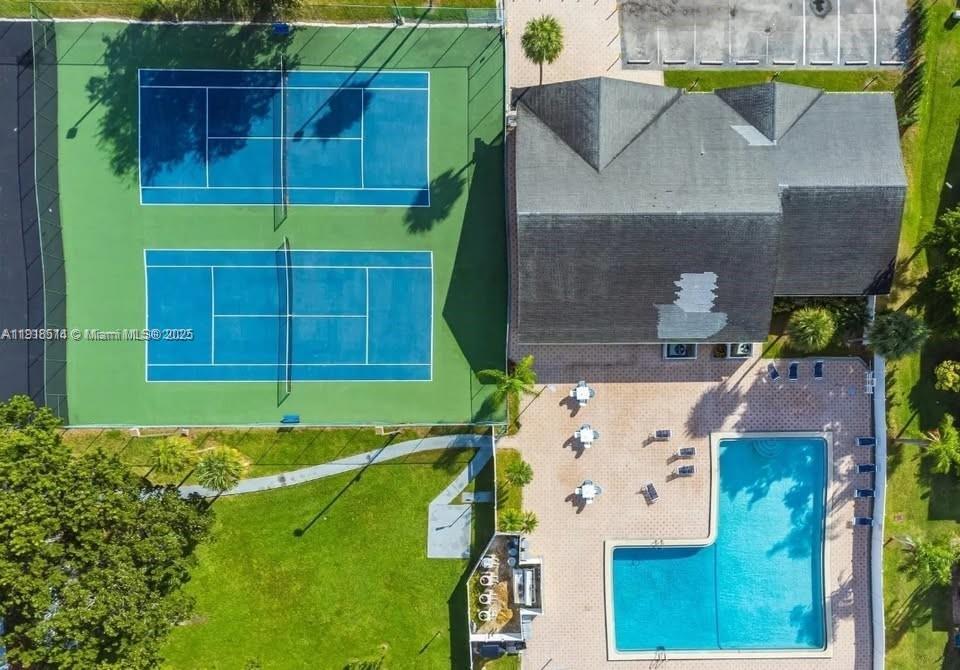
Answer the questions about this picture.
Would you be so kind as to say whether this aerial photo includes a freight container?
No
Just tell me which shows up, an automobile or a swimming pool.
swimming pool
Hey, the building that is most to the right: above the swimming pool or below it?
above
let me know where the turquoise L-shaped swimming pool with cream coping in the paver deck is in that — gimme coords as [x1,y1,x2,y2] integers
[604,433,832,660]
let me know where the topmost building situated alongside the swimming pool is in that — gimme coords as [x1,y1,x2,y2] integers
[511,78,908,345]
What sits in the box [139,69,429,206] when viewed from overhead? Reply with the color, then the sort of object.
blue tennis court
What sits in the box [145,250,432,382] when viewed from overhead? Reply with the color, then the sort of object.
blue tennis court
